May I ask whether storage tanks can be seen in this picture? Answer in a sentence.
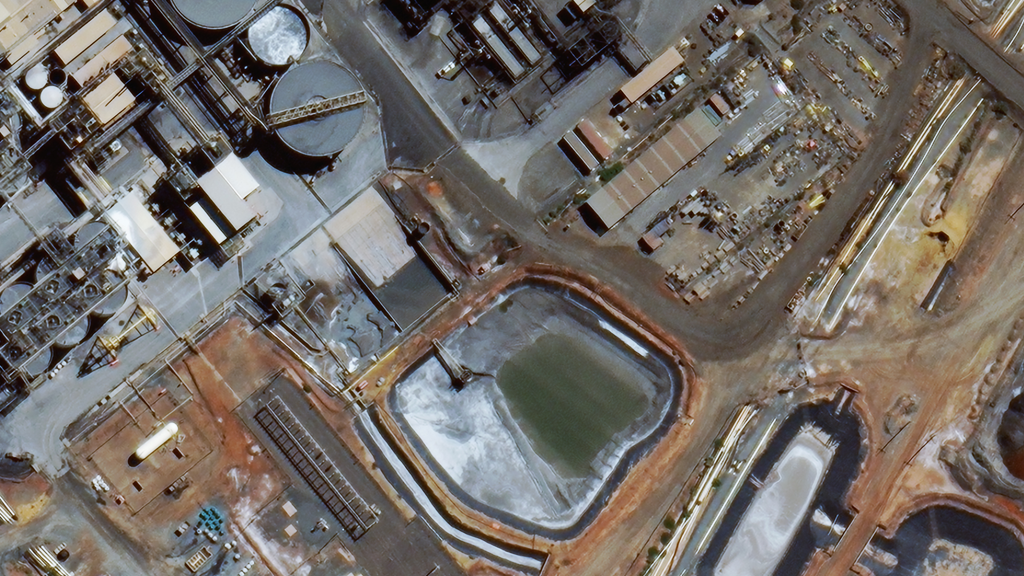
Yes, looking at the shot, I can spot a storage tank.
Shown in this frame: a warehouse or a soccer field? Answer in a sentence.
Of the two, only a warehouse appears.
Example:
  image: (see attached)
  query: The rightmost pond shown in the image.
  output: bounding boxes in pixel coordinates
[997,380,1024,488]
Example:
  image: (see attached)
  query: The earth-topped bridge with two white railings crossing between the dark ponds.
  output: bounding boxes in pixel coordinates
[822,506,887,572]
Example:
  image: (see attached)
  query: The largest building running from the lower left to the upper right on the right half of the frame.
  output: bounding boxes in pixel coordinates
[586,106,723,229]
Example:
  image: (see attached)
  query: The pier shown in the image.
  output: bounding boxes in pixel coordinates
[433,343,474,385]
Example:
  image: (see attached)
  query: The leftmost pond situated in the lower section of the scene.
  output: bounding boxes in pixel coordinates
[387,275,686,542]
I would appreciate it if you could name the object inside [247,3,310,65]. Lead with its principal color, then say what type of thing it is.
white storage tank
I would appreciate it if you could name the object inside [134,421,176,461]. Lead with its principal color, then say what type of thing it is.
white storage tank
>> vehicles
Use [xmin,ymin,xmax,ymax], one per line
[680,35,694,48]
[377,376,383,386]
[357,380,369,390]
